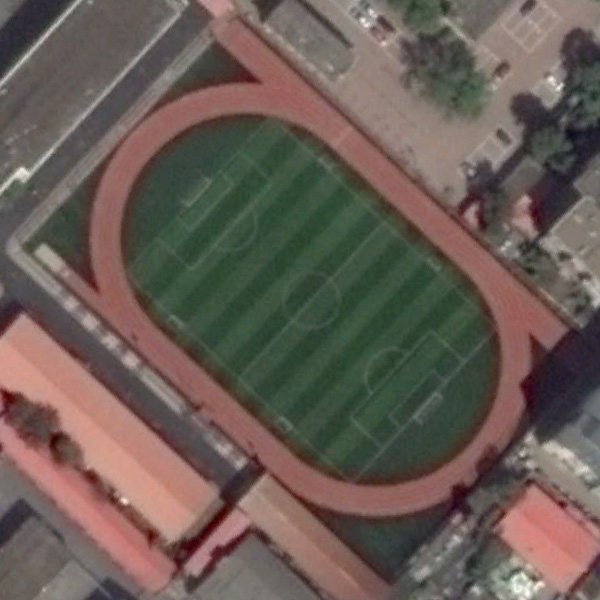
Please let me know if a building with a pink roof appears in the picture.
Yes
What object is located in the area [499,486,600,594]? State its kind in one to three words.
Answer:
house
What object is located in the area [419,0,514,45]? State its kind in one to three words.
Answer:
building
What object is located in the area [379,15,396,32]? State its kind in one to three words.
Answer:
vehicle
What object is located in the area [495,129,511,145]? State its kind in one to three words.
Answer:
car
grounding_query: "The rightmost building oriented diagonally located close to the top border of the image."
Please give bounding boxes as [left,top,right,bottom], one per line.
[260,0,355,81]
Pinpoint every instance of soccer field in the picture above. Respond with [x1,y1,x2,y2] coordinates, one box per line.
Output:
[121,112,496,487]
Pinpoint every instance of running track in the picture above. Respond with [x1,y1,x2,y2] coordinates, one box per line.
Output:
[59,17,588,520]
